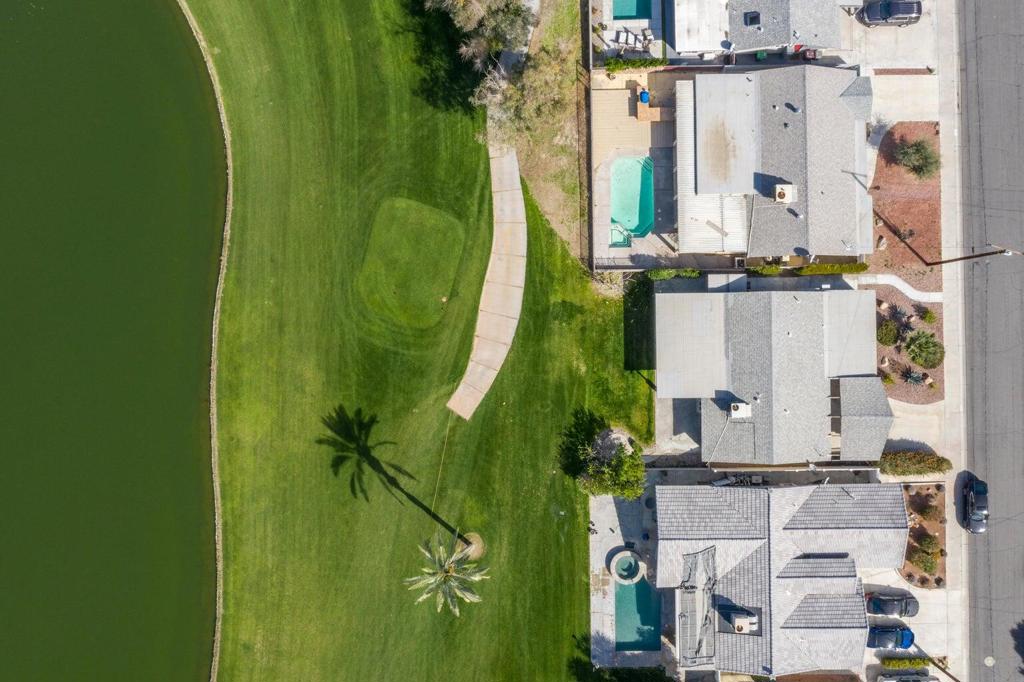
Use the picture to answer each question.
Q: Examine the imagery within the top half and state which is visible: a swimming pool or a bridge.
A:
swimming pool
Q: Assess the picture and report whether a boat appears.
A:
No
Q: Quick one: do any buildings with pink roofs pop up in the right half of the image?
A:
No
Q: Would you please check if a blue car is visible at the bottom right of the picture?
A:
Yes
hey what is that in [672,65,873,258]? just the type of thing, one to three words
house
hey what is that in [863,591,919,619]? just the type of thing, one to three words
car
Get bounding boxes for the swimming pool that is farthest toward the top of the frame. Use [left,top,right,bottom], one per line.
[610,0,656,22]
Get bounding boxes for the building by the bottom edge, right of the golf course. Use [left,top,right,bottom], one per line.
[655,484,909,673]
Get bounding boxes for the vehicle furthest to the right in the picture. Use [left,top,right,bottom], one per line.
[962,479,993,534]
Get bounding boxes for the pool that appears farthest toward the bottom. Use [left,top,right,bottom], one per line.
[613,575,662,653]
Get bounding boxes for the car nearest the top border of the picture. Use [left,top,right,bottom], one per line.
[856,0,920,27]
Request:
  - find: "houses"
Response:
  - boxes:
[655,484,909,673]
[652,291,893,464]
[675,0,863,54]
[672,65,873,258]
